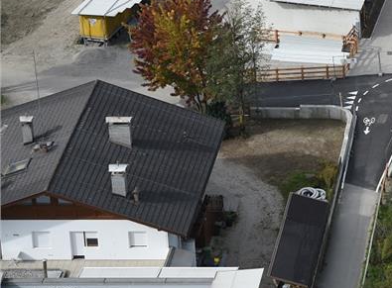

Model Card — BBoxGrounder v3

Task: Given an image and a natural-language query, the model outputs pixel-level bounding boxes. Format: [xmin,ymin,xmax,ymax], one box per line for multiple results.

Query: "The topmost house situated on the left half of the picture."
[0,71,229,268]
